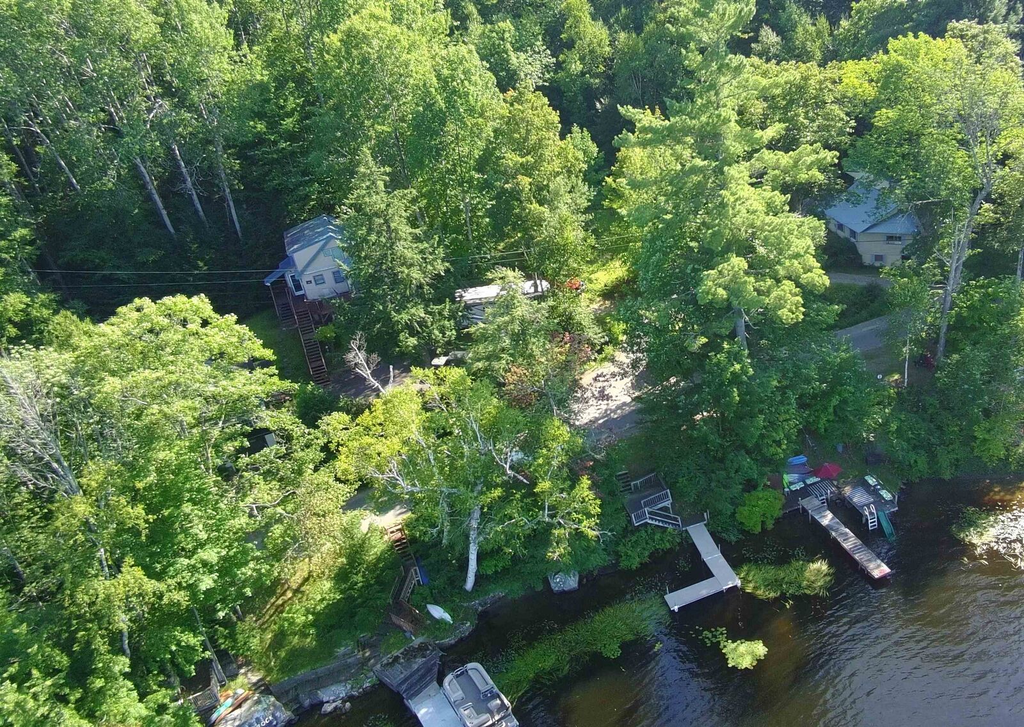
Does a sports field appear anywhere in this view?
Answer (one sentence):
No, this view has no sports field in it.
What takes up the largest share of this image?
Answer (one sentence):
The largest share of the image is taken up by trees.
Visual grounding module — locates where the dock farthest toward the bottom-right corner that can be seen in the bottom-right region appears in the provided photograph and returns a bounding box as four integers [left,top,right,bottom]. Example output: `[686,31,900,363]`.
[800,496,892,582]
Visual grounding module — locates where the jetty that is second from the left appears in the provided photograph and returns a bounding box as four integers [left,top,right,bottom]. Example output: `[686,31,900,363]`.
[654,522,742,611]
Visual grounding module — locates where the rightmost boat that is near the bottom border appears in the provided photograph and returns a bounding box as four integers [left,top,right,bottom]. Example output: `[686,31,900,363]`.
[450,661,522,727]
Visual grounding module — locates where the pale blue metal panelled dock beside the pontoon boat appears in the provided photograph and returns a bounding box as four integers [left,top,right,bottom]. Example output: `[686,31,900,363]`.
[405,683,463,727]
